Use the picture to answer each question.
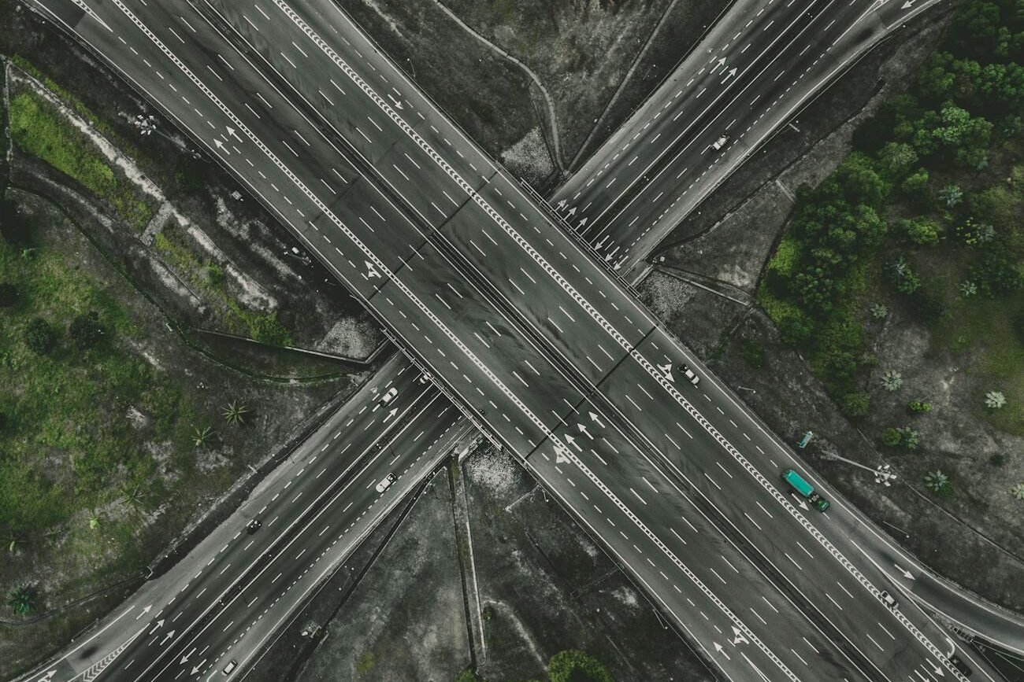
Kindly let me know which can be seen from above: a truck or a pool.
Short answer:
truck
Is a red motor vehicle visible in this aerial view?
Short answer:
No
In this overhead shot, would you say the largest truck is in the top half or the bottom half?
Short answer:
bottom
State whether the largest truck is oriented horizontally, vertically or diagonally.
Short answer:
diagonally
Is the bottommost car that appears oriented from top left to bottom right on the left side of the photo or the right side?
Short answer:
right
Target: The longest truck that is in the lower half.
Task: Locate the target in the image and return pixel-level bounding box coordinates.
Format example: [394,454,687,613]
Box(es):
[785,471,836,516]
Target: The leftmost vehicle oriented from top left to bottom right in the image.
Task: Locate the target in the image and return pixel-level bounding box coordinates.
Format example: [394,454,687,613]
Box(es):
[678,362,702,387]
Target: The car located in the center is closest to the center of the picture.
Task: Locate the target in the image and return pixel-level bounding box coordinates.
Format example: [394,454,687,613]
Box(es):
[416,373,433,388]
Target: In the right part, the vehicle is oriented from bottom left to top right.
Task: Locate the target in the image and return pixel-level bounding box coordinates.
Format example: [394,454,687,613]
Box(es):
[709,128,734,152]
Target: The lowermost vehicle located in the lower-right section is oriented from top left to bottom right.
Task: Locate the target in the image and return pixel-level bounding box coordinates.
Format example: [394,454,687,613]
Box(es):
[950,657,974,680]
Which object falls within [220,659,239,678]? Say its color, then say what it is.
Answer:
white car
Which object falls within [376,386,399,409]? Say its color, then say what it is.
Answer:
white vehicle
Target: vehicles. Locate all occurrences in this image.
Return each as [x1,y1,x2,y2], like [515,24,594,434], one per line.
[416,373,433,388]
[220,659,239,678]
[709,128,734,152]
[243,518,262,537]
[881,591,901,611]
[374,472,398,495]
[376,386,399,409]
[950,657,974,680]
[678,362,702,387]
[785,471,836,516]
